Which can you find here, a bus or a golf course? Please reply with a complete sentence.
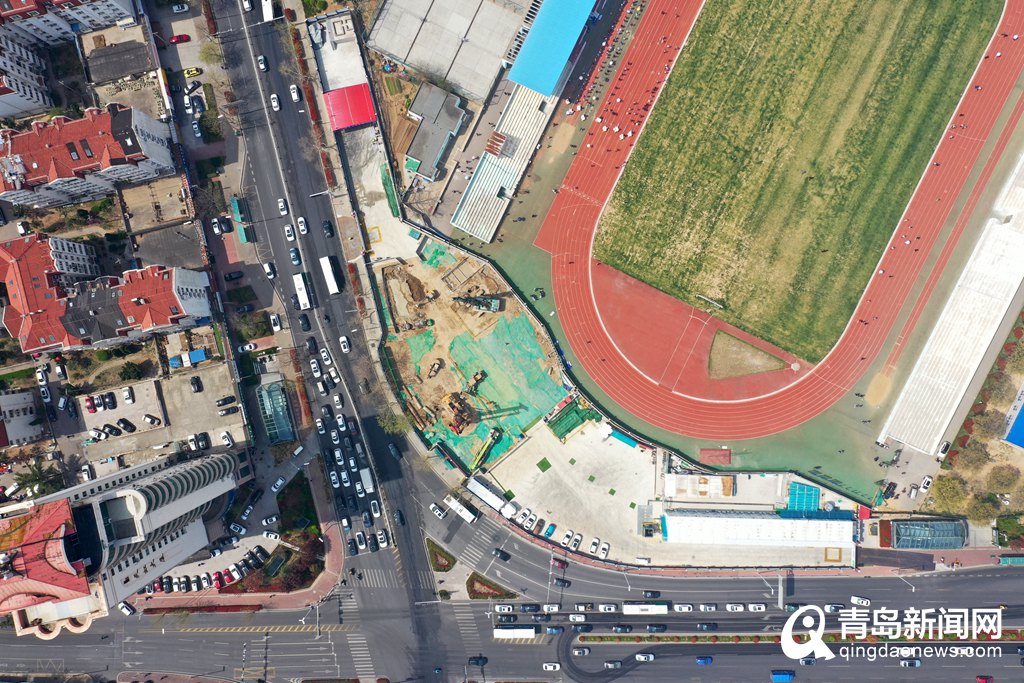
Visible in the photo is a bus.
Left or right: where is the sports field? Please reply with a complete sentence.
The sports field sits on the right side.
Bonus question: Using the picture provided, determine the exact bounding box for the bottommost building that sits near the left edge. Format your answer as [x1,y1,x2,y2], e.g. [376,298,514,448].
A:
[0,444,262,638]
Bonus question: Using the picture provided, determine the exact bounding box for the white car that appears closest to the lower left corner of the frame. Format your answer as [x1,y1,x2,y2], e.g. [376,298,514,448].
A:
[117,601,135,617]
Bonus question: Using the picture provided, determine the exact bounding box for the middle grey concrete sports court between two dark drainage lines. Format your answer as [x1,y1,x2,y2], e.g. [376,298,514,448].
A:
[407,0,481,81]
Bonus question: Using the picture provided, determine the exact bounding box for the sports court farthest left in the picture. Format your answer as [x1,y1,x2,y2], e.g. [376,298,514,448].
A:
[368,0,431,60]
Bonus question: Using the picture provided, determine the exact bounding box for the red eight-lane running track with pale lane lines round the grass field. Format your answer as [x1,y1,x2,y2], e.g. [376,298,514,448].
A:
[533,0,1024,440]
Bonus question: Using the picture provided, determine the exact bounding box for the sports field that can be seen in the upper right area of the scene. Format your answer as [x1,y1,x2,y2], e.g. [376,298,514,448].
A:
[592,0,1004,366]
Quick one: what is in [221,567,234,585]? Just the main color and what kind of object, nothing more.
red vehicle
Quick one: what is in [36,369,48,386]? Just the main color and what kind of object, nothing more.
white vehicle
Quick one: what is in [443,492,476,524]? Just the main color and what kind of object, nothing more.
white bus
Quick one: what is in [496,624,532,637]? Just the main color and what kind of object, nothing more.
white vehicle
